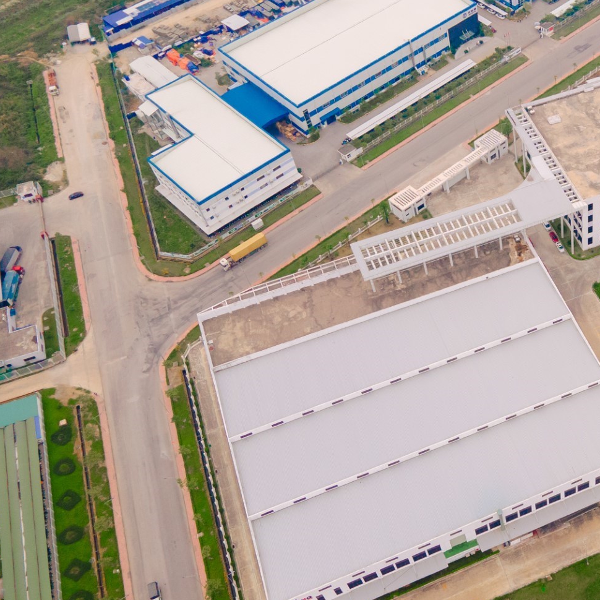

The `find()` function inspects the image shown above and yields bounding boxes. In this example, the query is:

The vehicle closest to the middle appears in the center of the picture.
[217,236,273,275]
